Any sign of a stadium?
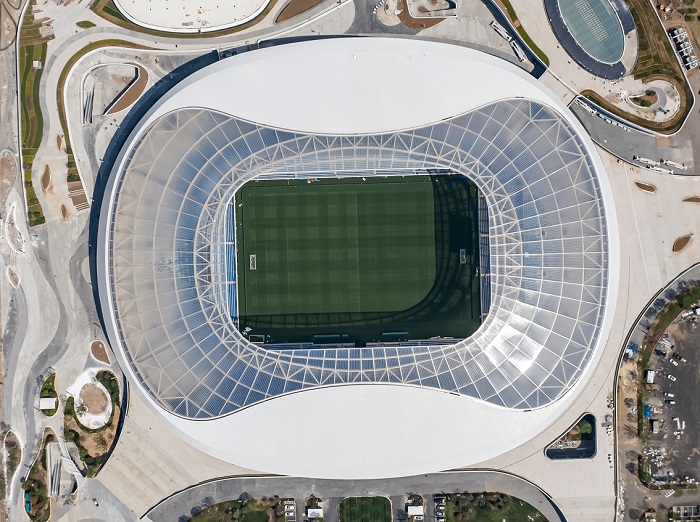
Yes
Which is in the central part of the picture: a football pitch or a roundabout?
football pitch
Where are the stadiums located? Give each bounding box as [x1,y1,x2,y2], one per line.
[98,40,619,478]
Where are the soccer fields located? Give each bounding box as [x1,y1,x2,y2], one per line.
[234,177,480,348]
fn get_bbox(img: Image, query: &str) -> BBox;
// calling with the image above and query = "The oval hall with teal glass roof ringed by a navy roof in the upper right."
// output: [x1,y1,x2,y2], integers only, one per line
[541,0,638,82]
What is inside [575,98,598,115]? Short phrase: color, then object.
white vehicle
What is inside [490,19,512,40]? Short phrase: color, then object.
white bus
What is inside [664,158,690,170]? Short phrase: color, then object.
white vehicle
